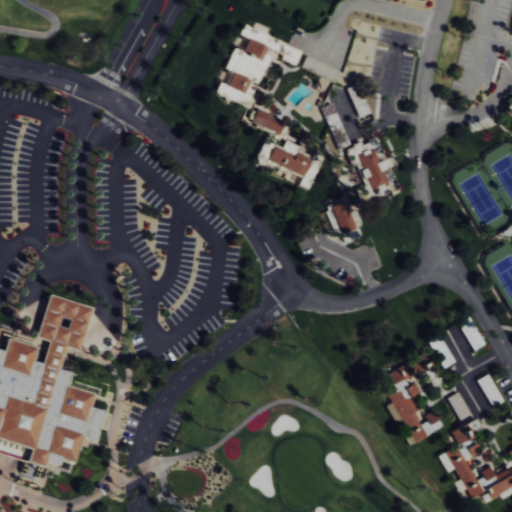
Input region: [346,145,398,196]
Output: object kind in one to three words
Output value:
house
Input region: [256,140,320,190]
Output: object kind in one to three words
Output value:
house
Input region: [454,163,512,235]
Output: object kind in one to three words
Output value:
tennis court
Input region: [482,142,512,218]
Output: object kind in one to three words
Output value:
tennis court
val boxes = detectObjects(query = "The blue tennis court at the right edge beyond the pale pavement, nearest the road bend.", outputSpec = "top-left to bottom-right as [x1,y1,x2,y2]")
[487,242,512,310]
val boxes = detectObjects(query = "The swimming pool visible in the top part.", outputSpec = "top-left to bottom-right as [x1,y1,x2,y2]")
[285,76,323,121]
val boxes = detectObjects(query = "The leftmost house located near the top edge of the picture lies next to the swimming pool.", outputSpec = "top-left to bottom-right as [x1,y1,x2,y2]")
[216,22,304,108]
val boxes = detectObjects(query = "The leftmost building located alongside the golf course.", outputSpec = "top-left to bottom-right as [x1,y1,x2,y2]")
[0,294,106,467]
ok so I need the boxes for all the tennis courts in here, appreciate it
[454,163,512,235]
[487,242,512,310]
[482,142,512,218]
